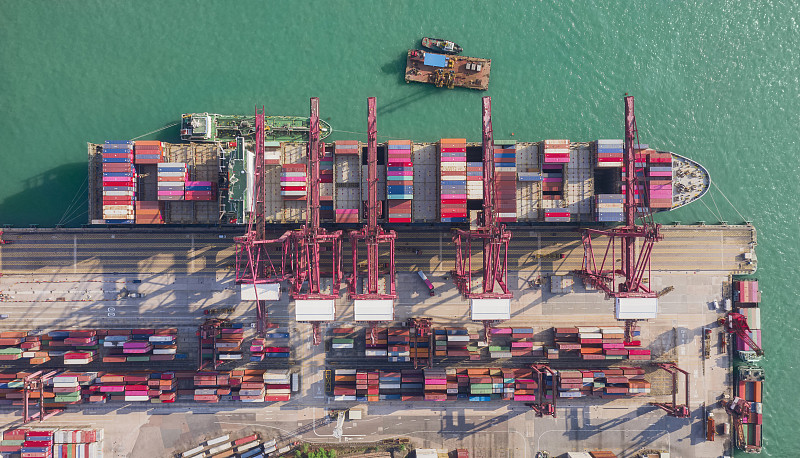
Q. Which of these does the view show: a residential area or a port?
port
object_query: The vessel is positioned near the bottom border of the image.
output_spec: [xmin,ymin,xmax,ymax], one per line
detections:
[734,365,767,453]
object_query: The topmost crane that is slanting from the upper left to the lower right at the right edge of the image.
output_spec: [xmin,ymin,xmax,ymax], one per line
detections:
[718,313,760,355]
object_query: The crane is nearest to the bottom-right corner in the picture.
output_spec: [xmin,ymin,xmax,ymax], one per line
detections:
[721,398,752,452]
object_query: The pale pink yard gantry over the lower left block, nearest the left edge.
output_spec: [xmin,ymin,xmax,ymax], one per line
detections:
[25,371,62,423]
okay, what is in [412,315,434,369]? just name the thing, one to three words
container crane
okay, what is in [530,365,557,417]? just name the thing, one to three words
container crane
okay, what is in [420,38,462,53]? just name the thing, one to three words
boat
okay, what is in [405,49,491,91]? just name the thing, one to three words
ship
